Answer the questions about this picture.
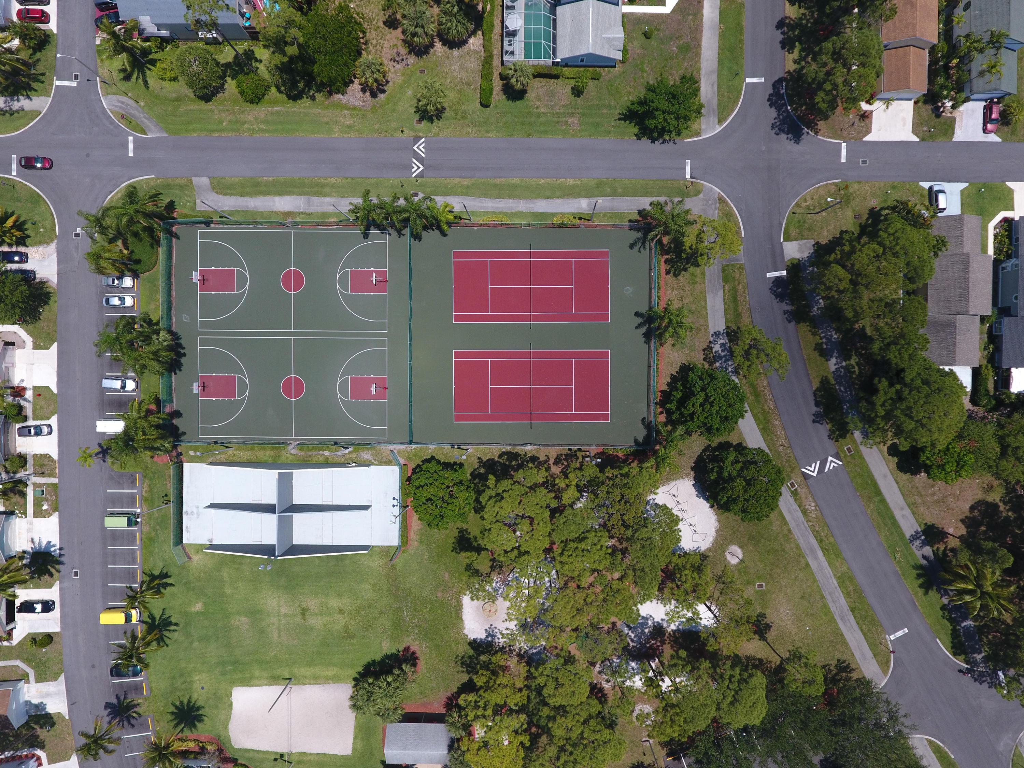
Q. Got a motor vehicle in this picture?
Yes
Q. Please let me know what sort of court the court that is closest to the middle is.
tennis court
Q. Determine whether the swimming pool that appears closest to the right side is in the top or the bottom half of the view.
top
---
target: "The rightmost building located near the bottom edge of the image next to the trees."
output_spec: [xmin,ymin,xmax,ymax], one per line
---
[384,714,449,764]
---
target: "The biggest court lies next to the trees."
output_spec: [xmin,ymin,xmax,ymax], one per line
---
[174,227,649,444]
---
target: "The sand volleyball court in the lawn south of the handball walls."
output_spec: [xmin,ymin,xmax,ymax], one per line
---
[229,684,355,755]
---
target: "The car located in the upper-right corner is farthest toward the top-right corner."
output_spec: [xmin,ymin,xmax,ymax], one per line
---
[981,100,999,135]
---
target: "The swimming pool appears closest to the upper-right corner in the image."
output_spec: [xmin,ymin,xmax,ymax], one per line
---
[525,0,551,59]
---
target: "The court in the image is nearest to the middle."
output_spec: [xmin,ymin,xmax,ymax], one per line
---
[453,349,610,423]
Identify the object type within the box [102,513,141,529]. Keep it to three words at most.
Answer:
vehicle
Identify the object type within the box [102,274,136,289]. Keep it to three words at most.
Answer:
car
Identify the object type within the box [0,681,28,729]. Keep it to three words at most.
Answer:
house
